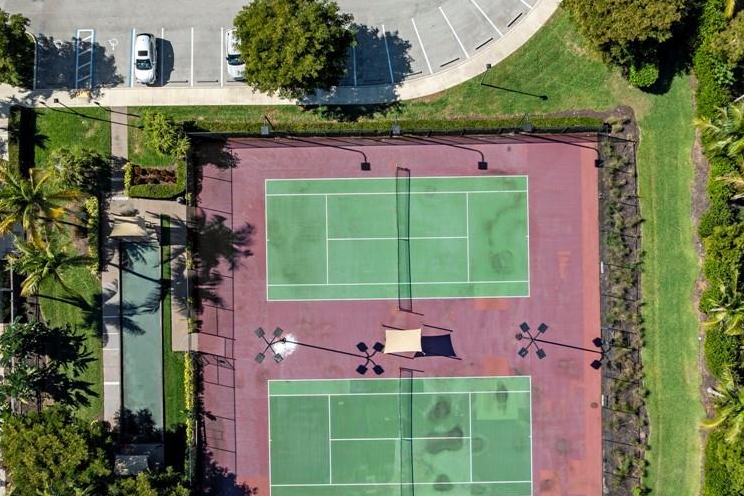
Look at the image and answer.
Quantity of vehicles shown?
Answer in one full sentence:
My tally gives 2 vehicles in this view.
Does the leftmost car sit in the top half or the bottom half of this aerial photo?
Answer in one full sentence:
Seen from above, the leftmost car lies in the top half of the view.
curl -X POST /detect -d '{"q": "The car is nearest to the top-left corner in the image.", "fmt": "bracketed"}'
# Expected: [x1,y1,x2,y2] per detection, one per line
[131,32,158,86]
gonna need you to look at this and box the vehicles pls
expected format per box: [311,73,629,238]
[131,32,158,86]
[223,29,249,84]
